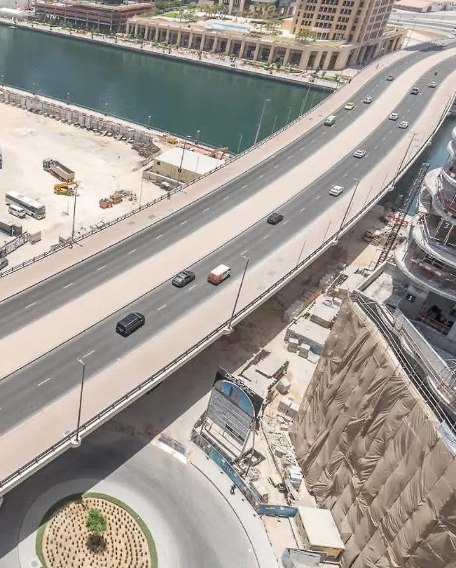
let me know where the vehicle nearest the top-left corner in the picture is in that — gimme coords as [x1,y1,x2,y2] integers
[43,158,73,178]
